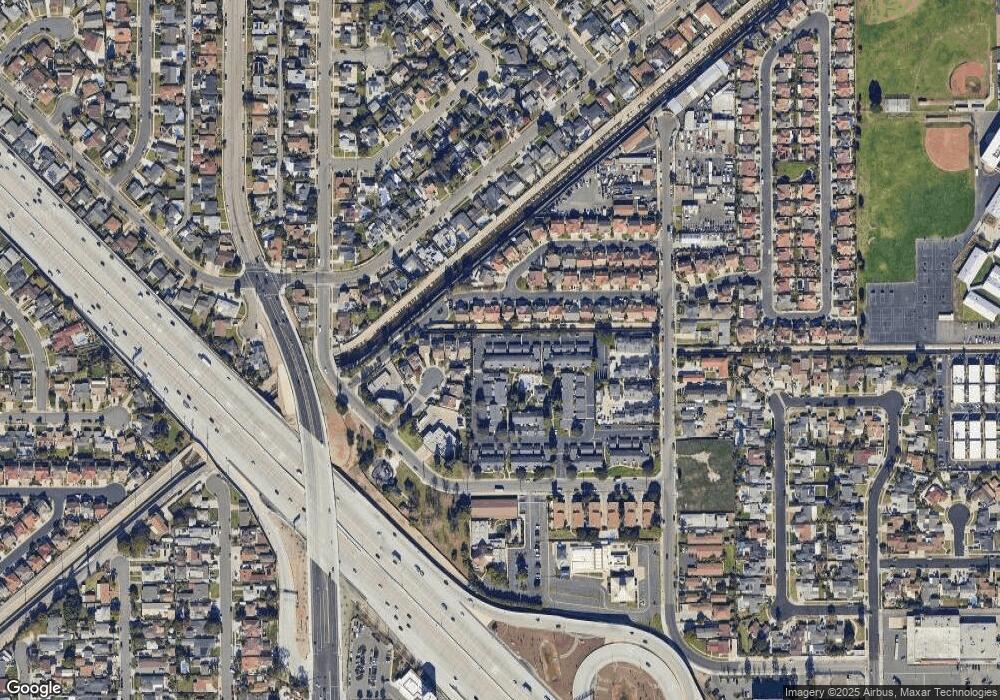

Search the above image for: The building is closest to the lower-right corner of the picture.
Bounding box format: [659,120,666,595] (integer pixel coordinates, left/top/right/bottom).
[961,625,997,664]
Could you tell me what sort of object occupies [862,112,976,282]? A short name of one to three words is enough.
baseball field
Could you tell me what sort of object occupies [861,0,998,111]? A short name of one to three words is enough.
baseball field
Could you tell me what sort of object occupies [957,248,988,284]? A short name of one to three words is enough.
building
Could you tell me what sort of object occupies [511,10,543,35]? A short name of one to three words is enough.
house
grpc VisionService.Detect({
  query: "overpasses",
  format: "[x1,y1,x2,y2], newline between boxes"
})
[296,402,339,587]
